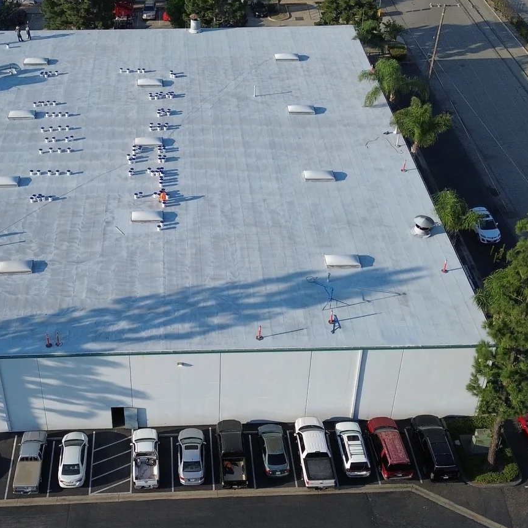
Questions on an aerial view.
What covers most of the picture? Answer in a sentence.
Most of the picture is covered by buildings.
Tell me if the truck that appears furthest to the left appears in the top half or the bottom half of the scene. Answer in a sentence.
The truck that appears furthest to the left is in the bottom half of the image.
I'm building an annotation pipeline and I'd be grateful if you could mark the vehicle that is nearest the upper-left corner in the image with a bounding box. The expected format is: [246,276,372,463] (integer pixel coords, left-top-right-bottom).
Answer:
[113,0,133,29]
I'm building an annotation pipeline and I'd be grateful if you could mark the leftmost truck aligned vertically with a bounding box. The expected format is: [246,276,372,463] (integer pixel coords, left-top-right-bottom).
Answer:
[13,429,49,494]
